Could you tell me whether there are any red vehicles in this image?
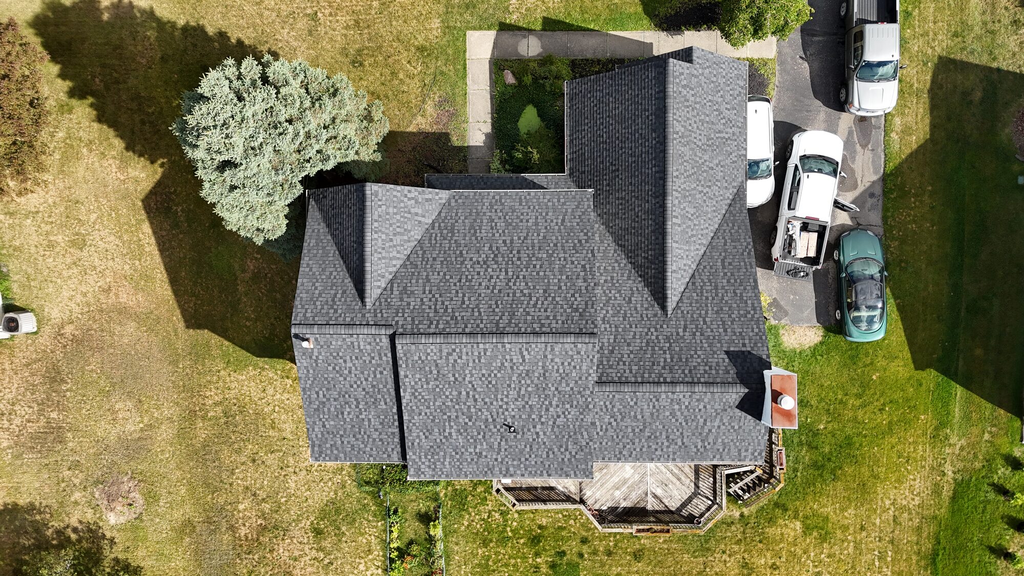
No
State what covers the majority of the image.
grass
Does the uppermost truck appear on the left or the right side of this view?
right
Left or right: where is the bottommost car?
right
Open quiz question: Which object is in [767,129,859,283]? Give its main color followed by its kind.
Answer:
white truck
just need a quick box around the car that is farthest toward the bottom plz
[833,228,895,343]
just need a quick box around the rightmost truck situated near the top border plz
[838,0,908,120]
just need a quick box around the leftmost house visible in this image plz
[290,45,797,482]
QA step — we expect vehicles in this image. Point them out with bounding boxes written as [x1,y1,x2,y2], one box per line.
[745,97,783,207]
[767,129,859,283]
[833,228,895,343]
[838,0,908,120]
